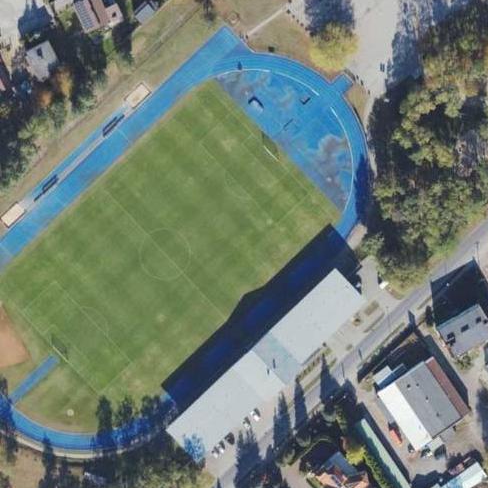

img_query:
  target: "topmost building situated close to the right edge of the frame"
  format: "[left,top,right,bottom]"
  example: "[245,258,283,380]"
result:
[436,304,488,356]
